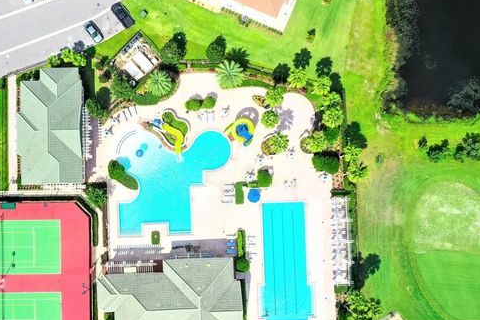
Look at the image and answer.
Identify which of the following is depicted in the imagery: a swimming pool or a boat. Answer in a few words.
swimming pool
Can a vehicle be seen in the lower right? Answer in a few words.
No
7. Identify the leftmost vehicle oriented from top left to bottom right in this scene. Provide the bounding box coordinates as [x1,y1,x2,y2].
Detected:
[84,20,104,44]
